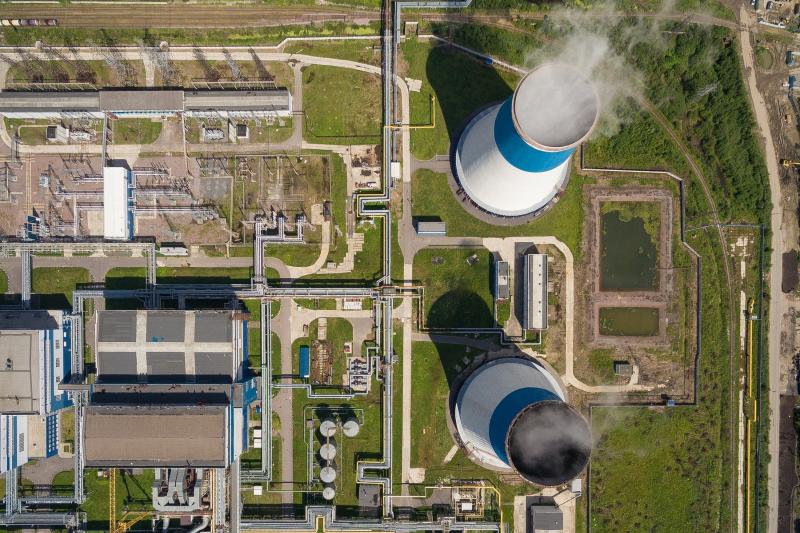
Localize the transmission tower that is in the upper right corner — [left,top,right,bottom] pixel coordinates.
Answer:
[690,80,720,99]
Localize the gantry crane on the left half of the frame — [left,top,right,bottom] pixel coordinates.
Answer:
[109,467,153,533]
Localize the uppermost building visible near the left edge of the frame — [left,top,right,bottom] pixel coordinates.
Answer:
[0,89,294,123]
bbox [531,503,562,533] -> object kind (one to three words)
building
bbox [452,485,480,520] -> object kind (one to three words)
building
